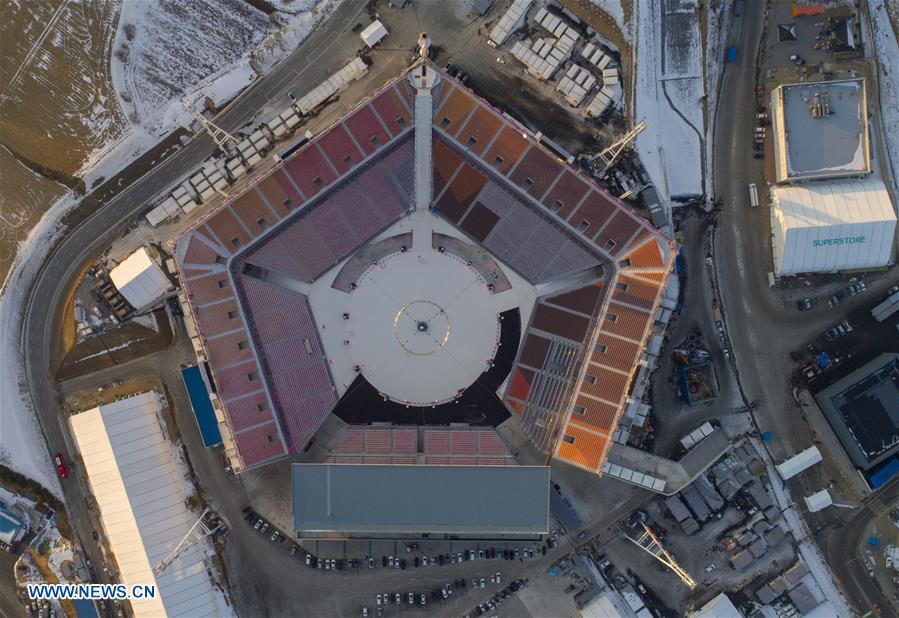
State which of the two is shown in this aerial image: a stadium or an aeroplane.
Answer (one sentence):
The one in the frame is a stadium.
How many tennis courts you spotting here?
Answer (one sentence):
The photo contains no tennis courts.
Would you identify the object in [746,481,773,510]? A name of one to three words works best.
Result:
building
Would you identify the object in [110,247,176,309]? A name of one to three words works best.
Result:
tent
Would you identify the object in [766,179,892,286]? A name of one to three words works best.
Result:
building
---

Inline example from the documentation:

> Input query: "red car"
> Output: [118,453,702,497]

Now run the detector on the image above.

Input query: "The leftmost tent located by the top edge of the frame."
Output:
[360,20,389,51]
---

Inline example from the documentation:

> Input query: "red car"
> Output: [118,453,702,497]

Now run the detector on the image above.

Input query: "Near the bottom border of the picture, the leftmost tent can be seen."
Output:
[573,589,622,618]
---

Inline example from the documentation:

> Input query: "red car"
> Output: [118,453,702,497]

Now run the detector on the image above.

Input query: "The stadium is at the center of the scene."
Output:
[169,56,675,540]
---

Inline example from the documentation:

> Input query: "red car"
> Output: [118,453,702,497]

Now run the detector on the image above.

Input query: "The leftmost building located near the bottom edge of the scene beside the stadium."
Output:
[69,390,228,618]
